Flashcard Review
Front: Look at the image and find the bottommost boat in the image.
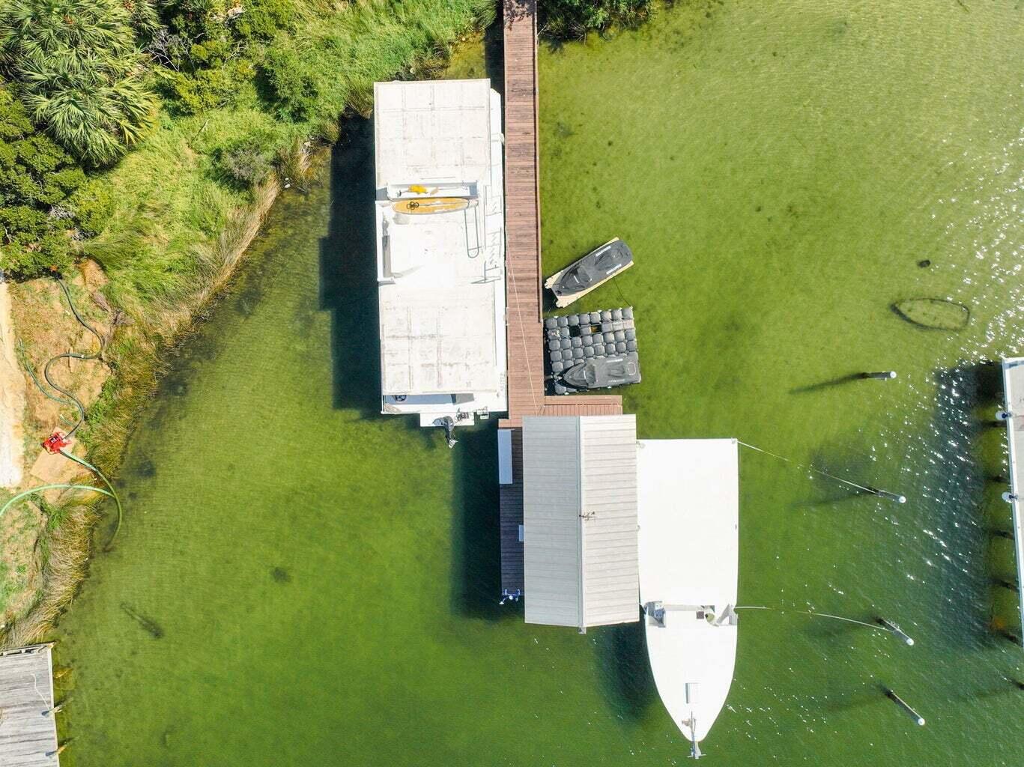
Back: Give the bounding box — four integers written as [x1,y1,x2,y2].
[637,439,739,755]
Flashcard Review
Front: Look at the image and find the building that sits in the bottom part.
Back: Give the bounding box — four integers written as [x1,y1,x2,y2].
[522,414,639,635]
